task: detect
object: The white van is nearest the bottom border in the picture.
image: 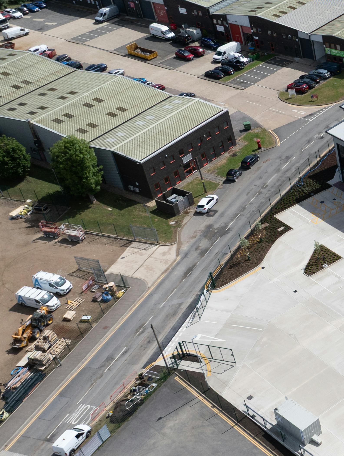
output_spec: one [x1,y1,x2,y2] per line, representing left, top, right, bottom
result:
[49,426,94,456]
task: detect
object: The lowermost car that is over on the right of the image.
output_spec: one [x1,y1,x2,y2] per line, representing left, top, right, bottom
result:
[193,195,222,212]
